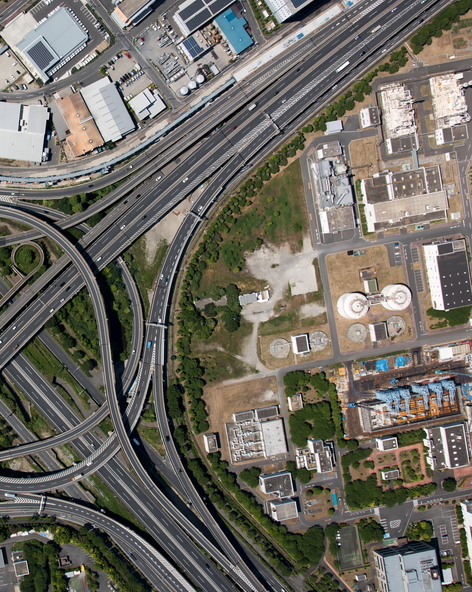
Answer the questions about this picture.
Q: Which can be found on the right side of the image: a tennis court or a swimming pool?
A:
tennis court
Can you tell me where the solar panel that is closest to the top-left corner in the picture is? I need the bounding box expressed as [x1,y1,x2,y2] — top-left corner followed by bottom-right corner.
[28,40,59,70]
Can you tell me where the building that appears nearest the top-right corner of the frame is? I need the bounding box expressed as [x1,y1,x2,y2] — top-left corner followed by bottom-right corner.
[426,74,470,129]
